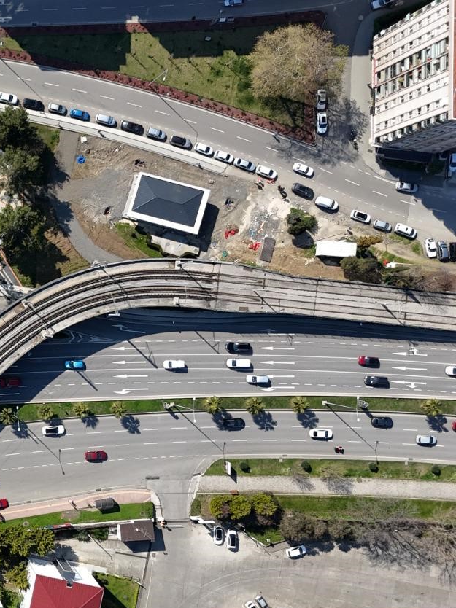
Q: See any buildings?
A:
Yes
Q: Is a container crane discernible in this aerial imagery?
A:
No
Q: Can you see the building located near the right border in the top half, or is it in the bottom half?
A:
top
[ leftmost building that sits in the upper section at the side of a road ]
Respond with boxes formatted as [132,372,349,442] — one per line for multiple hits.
[120,172,210,256]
